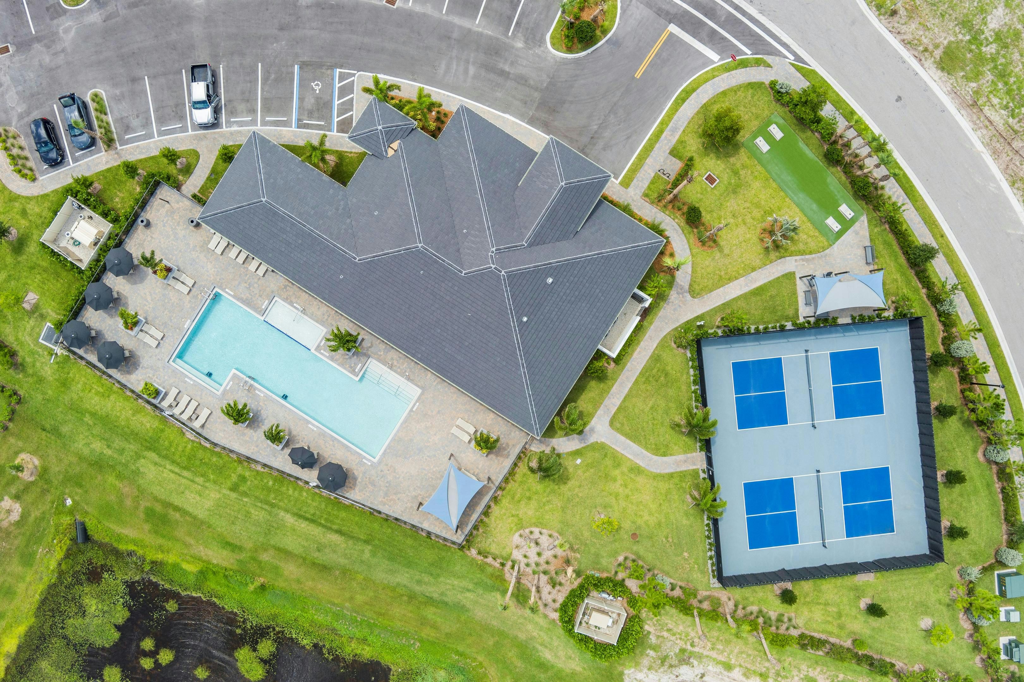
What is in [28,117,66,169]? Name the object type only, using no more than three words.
car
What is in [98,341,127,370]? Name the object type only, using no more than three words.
umbrella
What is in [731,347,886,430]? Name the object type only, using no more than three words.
sports court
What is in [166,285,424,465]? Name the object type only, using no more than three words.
swimming pool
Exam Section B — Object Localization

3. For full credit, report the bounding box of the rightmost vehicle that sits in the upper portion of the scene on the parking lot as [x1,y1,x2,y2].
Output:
[187,62,224,128]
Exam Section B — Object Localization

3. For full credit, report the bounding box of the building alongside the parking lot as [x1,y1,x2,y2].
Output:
[196,94,667,440]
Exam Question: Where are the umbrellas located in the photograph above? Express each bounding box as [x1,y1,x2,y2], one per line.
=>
[318,462,347,490]
[106,249,136,276]
[63,319,93,348]
[86,283,117,310]
[289,442,315,470]
[98,341,127,370]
